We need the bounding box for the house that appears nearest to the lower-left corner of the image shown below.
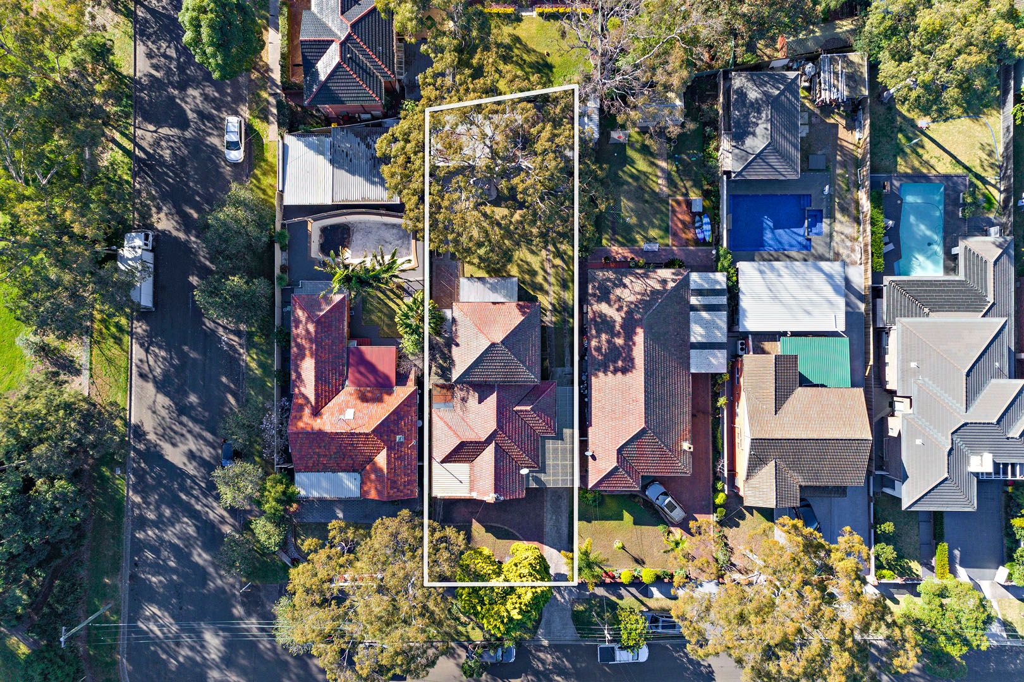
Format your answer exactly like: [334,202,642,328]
[288,293,418,502]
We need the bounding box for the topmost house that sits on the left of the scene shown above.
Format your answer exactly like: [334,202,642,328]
[299,0,397,108]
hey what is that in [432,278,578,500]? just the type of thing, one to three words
house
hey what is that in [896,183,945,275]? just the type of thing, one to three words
swimming pool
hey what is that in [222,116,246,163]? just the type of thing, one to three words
car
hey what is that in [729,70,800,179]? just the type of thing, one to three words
building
